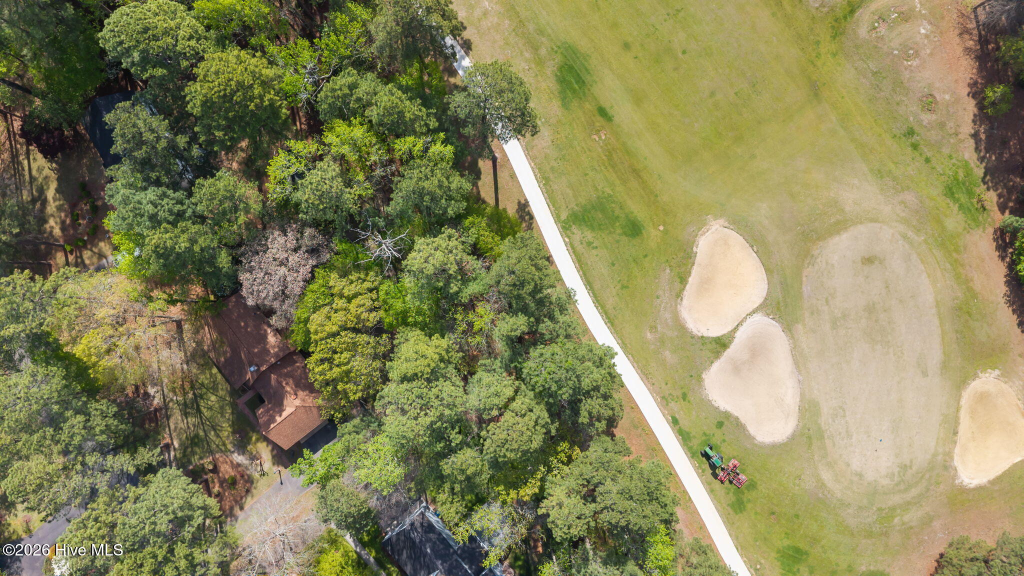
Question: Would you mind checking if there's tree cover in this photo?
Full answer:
Yes, there's tree cover in this view.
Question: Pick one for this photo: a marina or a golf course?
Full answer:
This image shows a golf course.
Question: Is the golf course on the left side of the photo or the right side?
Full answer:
The golf course sits on the right side.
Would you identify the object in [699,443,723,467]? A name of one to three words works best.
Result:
work vehicle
